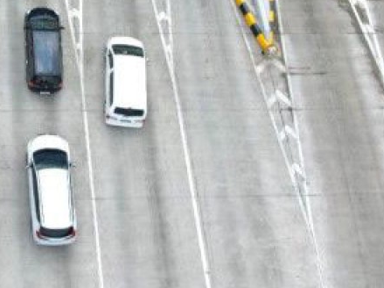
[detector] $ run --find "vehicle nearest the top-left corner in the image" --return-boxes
[19,8,66,96]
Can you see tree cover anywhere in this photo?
No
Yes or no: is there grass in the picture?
No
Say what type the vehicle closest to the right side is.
car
